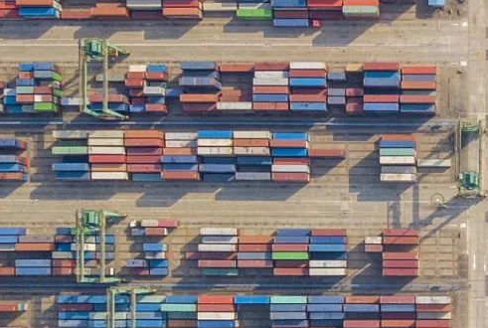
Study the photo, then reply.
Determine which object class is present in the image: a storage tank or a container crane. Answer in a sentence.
I can see a container crane in this picture.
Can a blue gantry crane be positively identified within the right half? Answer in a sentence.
No, there is no blue gantry crane within the right half.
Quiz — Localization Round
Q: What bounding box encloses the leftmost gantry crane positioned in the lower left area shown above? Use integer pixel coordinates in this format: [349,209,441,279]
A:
[75,205,129,284]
